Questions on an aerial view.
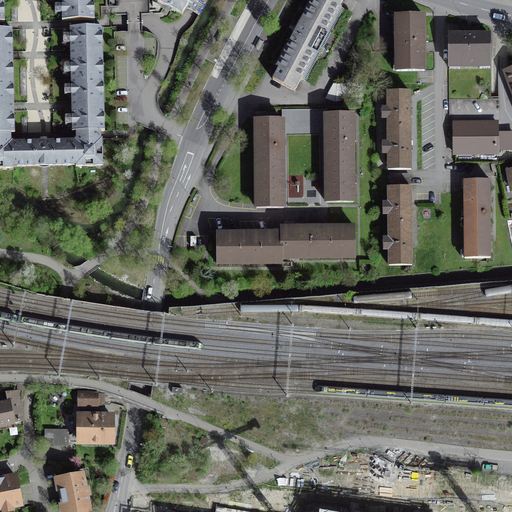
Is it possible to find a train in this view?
Yes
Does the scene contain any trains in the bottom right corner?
Yes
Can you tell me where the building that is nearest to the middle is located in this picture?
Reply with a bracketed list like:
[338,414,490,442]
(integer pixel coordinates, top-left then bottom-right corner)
[216,228,281,266]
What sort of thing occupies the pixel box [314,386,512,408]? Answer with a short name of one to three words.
train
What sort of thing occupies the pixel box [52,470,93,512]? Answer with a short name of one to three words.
house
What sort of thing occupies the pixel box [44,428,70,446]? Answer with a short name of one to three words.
building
